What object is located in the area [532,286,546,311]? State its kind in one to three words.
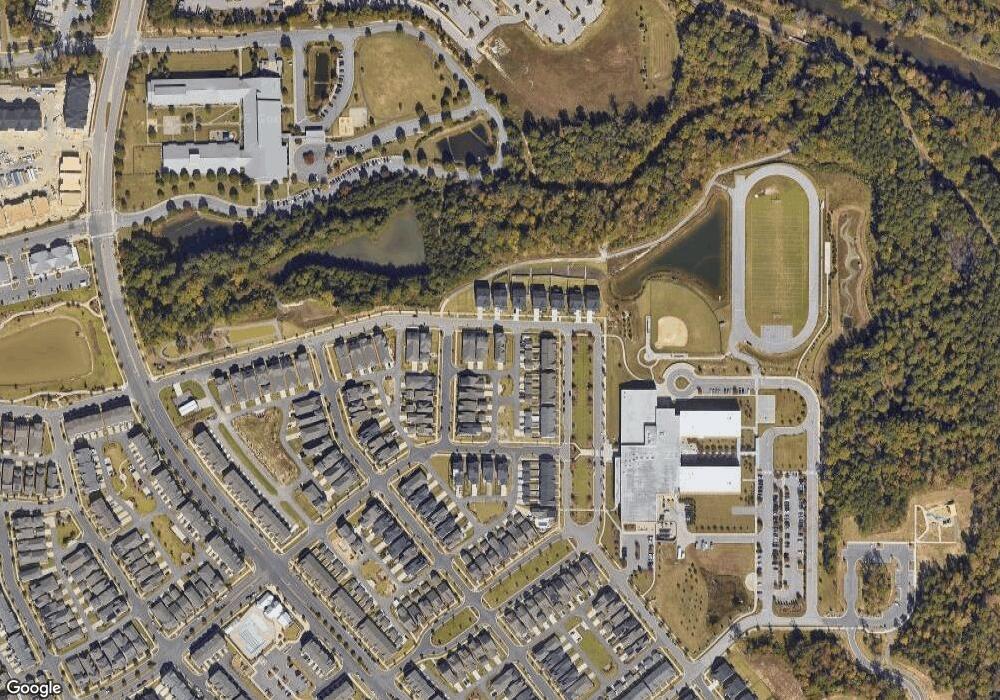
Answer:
house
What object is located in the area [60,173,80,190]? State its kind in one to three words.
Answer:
building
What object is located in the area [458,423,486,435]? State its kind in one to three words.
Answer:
house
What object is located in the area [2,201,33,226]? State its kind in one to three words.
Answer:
building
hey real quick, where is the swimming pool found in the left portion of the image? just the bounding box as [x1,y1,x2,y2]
[223,599,283,660]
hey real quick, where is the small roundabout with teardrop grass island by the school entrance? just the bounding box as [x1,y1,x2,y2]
[662,363,700,400]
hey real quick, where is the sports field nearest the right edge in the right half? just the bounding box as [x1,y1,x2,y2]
[746,176,809,336]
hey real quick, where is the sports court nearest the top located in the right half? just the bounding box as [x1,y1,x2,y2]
[758,395,775,424]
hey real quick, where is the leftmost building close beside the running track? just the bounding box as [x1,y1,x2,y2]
[615,390,742,523]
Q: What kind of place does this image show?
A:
residential area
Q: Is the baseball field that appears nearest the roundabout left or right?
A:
right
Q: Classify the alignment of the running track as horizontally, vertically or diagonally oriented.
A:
vertically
